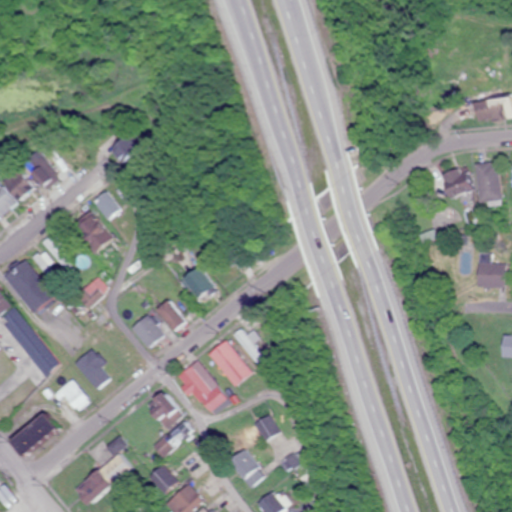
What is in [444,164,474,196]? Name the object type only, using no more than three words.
house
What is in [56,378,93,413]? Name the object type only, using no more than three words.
building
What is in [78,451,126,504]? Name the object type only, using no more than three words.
house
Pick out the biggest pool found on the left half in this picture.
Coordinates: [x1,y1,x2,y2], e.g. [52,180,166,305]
[74,254,90,270]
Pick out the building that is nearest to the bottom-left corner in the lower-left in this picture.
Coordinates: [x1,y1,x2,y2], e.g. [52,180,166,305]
[10,412,57,457]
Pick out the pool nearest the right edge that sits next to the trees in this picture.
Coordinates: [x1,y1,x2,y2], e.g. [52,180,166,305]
[458,248,474,278]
